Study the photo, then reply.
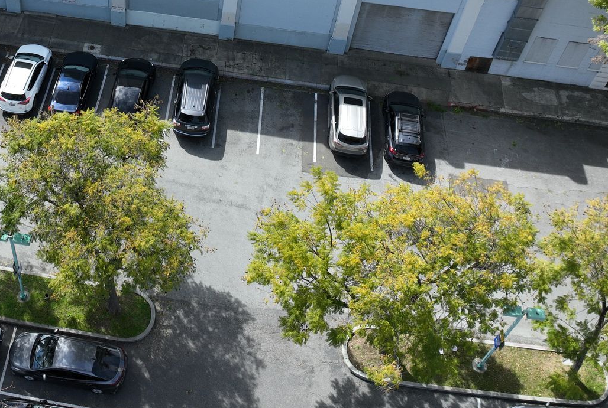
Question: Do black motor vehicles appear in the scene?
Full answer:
Yes, the photo shows a black motor vehicle.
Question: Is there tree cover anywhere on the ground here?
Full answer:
Yes, some tree cover is visible.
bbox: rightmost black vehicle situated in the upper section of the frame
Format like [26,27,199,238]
[377,93,423,167]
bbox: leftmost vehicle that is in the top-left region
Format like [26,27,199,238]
[0,45,44,113]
